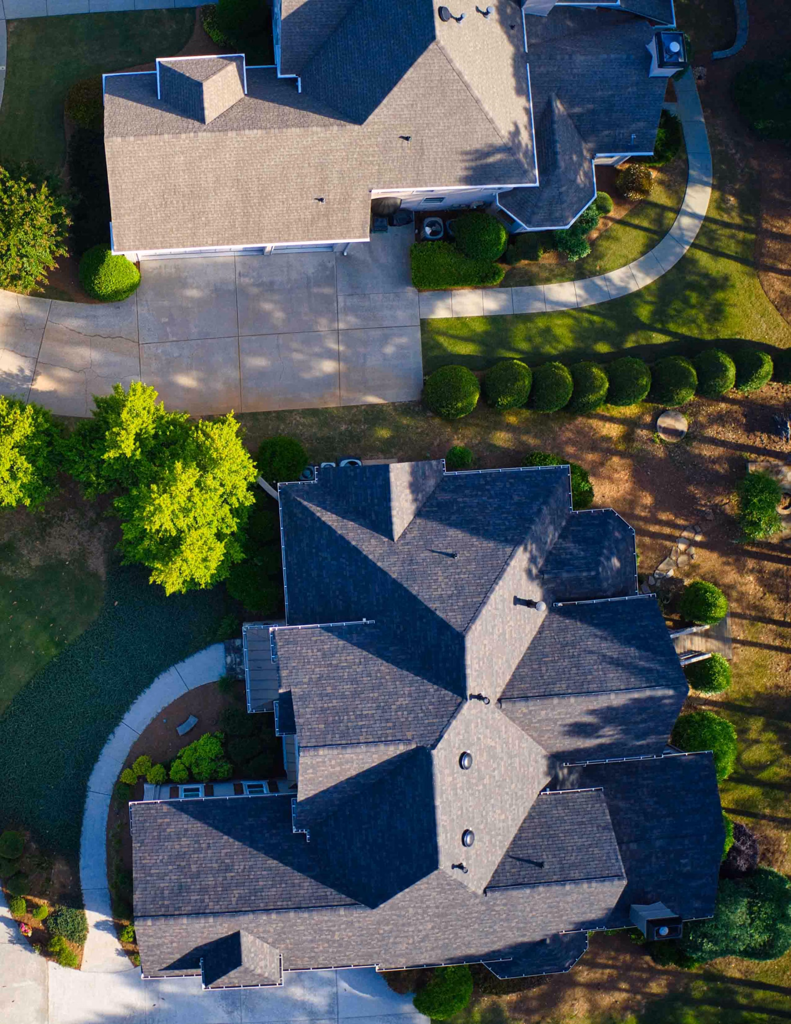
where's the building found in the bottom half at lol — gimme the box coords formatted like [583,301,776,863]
[128,459,723,992]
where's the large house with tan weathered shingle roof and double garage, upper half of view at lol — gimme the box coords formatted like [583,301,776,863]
[100,0,686,268]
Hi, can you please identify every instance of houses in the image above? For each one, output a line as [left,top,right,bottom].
[100,0,686,268]
[128,459,723,992]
